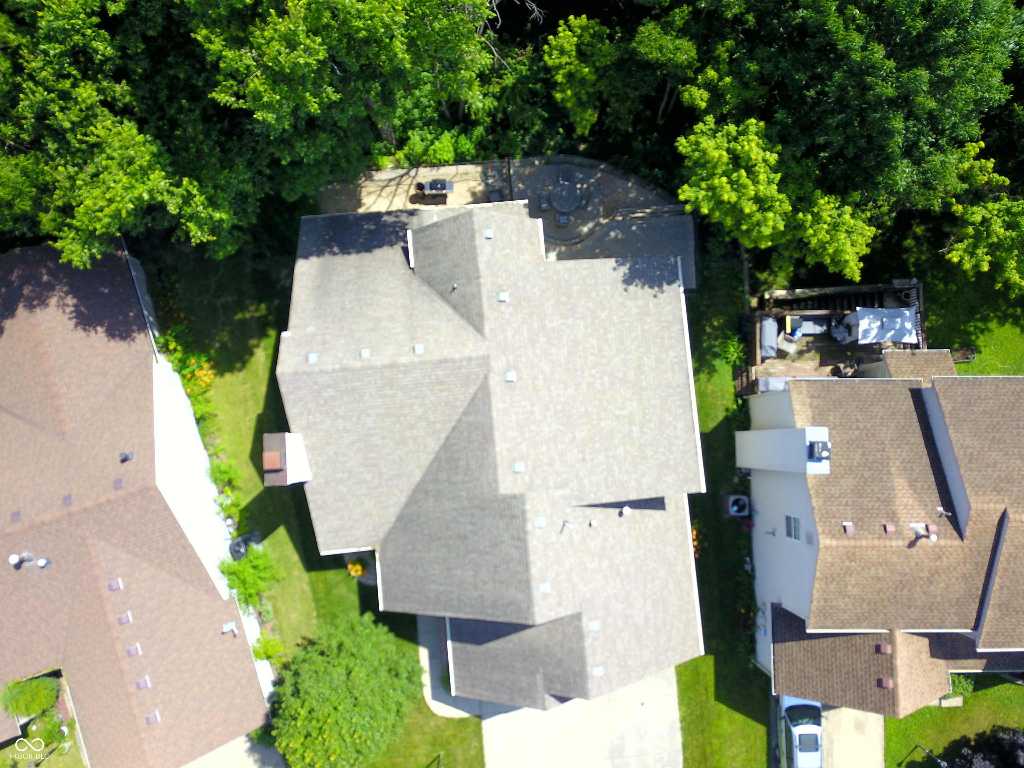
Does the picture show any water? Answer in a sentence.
No, the picture contains no water.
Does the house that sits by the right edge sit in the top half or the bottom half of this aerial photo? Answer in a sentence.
The bottom half of the photo is where the house that sits by the right edge is.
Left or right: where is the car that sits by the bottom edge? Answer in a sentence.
You can find the car that sits by the bottom edge on the right side of the picture.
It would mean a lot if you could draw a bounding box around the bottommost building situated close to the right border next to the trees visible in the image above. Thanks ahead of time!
[735,346,1024,718]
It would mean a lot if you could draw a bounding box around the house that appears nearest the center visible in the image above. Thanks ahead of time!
[259,190,710,710]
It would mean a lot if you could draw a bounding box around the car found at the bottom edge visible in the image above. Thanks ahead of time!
[773,694,829,768]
